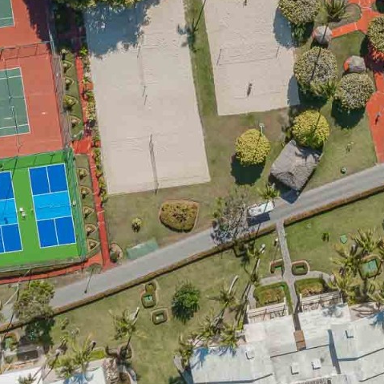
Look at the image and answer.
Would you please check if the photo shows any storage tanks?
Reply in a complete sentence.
No, this view has no storage tank in it.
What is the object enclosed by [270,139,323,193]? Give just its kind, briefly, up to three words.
building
